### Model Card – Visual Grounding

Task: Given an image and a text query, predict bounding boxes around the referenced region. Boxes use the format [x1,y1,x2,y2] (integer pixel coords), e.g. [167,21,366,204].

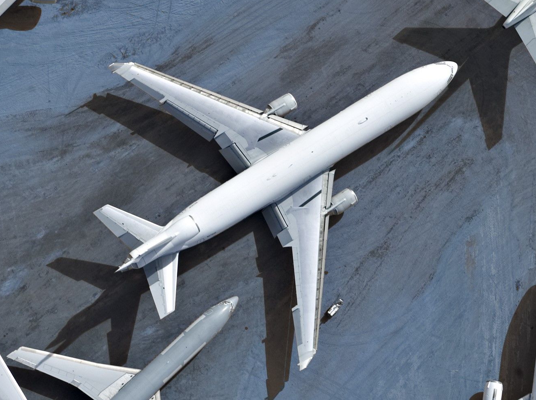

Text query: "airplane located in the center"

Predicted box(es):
[94,62,457,373]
